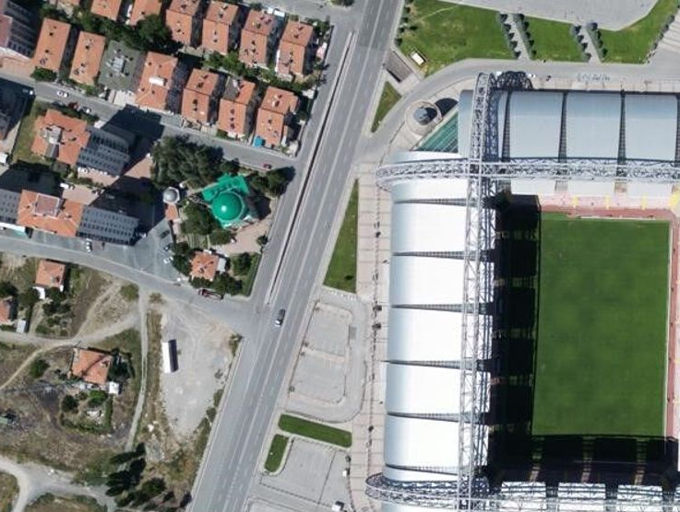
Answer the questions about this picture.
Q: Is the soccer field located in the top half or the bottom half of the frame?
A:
bottom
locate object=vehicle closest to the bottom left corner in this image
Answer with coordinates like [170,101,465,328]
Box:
[163,341,175,372]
